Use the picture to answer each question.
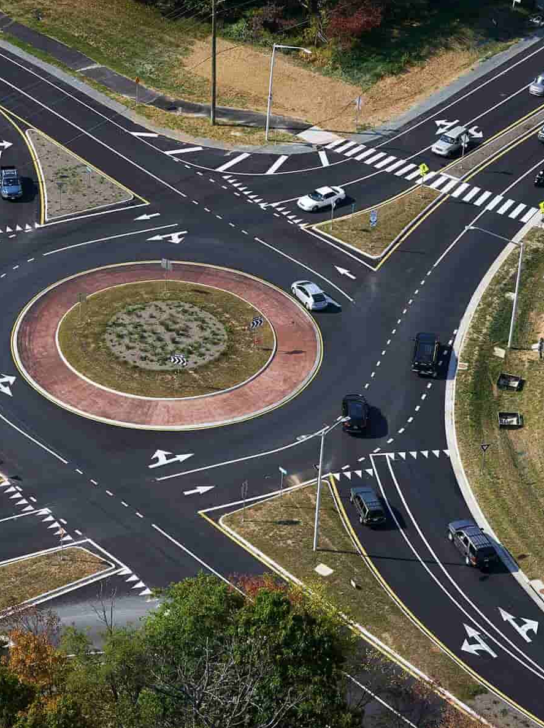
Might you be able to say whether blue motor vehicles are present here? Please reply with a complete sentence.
Yes, this view includes a blue motor vehicle.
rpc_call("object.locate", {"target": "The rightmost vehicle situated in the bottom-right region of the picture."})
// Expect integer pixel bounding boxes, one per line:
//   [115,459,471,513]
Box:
[445,519,495,566]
